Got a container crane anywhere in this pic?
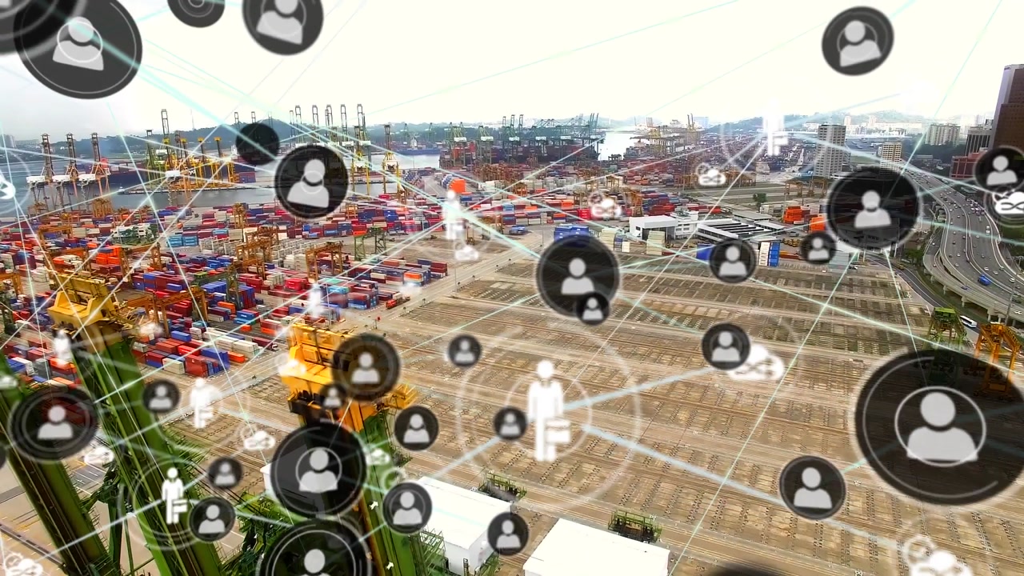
Yes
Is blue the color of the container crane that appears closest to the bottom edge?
No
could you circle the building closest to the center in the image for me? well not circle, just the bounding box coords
[630,220,685,242]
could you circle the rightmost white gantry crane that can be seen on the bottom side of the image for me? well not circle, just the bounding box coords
[528,499,679,576]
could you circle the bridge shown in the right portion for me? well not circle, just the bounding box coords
[854,145,1024,309]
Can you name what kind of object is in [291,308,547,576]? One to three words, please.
container crane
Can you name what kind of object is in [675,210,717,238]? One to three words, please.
building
